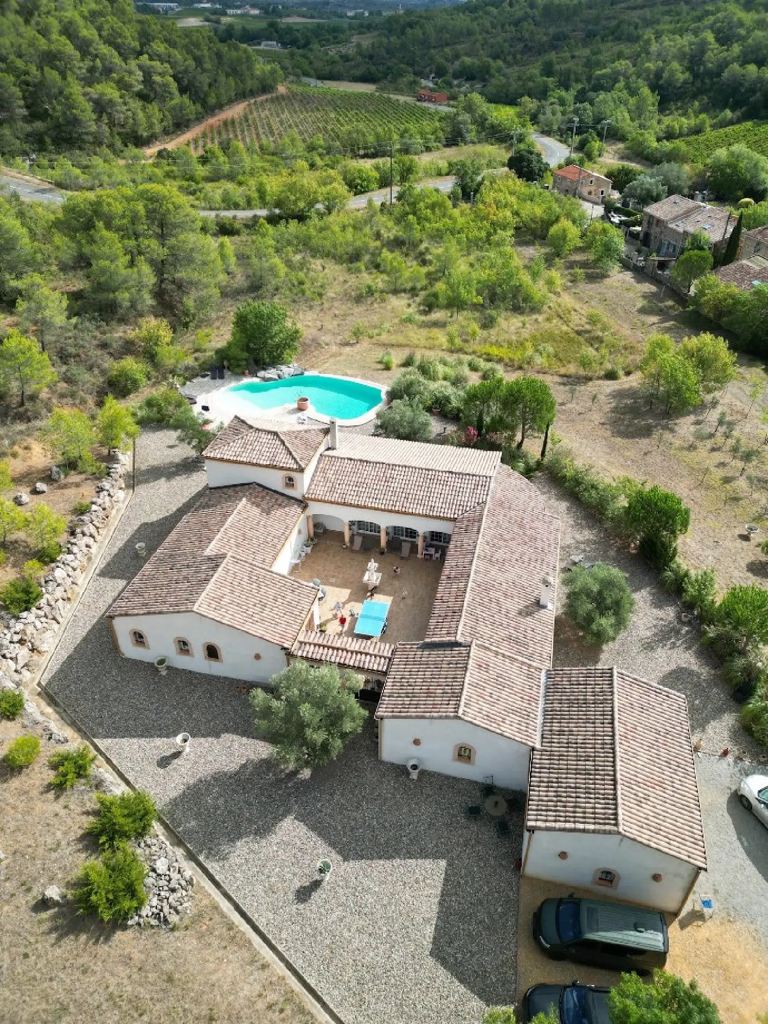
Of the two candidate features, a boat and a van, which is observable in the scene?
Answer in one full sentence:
This aerial view contains a van.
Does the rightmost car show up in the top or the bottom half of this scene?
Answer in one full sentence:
Seen from above, the rightmost car lies in the bottom half of the view.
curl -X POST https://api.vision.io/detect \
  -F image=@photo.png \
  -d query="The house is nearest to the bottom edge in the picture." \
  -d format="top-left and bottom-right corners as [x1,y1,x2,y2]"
[101,414,710,916]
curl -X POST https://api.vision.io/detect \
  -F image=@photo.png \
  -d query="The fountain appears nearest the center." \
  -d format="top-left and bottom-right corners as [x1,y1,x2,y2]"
[360,567,381,597]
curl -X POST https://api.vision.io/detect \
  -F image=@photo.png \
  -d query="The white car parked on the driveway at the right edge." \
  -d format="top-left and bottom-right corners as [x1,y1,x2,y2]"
[737,774,768,835]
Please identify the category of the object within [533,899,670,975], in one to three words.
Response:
van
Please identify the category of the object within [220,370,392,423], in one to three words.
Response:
swimming pool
